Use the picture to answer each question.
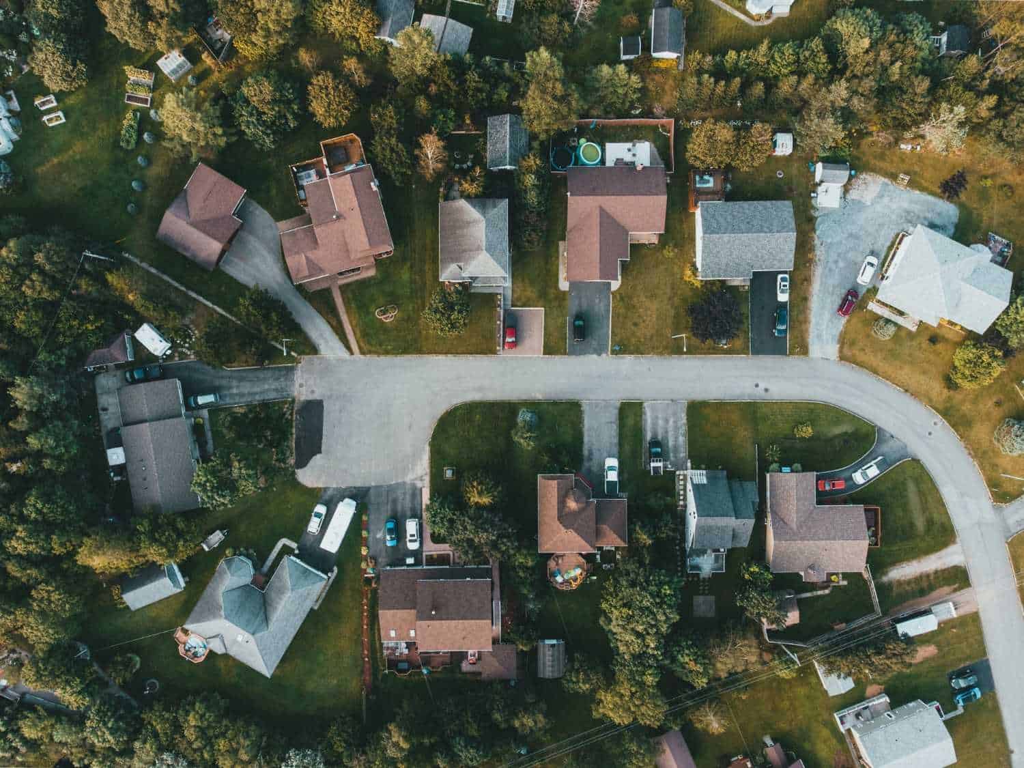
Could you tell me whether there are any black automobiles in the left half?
Yes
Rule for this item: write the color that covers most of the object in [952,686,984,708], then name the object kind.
blue car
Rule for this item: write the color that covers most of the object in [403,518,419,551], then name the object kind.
white car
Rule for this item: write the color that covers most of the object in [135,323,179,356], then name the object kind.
white camper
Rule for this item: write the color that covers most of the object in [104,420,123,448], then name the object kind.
black car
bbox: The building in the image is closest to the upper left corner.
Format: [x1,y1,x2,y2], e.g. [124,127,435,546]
[157,162,251,270]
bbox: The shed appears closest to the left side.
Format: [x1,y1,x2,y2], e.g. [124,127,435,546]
[83,332,135,371]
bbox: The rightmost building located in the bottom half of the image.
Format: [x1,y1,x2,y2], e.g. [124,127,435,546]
[832,692,957,768]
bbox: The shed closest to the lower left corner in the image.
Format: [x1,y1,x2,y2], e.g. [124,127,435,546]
[120,568,188,611]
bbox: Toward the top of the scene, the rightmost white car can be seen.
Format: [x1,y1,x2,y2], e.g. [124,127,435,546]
[855,254,879,287]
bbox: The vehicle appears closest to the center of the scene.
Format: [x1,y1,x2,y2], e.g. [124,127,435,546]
[504,326,518,350]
